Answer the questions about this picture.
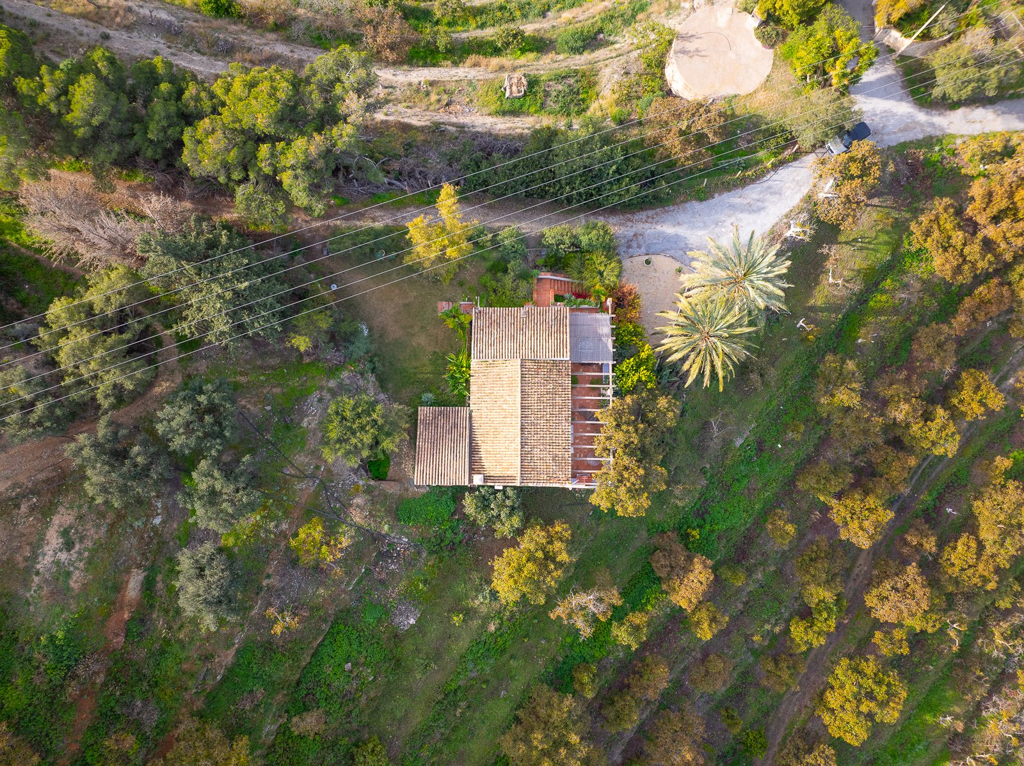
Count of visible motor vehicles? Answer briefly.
1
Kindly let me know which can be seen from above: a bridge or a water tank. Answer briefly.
water tank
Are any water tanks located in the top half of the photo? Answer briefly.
Yes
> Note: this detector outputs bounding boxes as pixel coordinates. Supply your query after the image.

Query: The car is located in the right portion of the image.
[823,119,874,158]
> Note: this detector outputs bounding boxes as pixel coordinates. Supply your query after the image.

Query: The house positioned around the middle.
[414,305,574,488]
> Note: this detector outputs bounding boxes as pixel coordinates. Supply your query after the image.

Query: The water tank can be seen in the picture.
[670,5,774,102]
